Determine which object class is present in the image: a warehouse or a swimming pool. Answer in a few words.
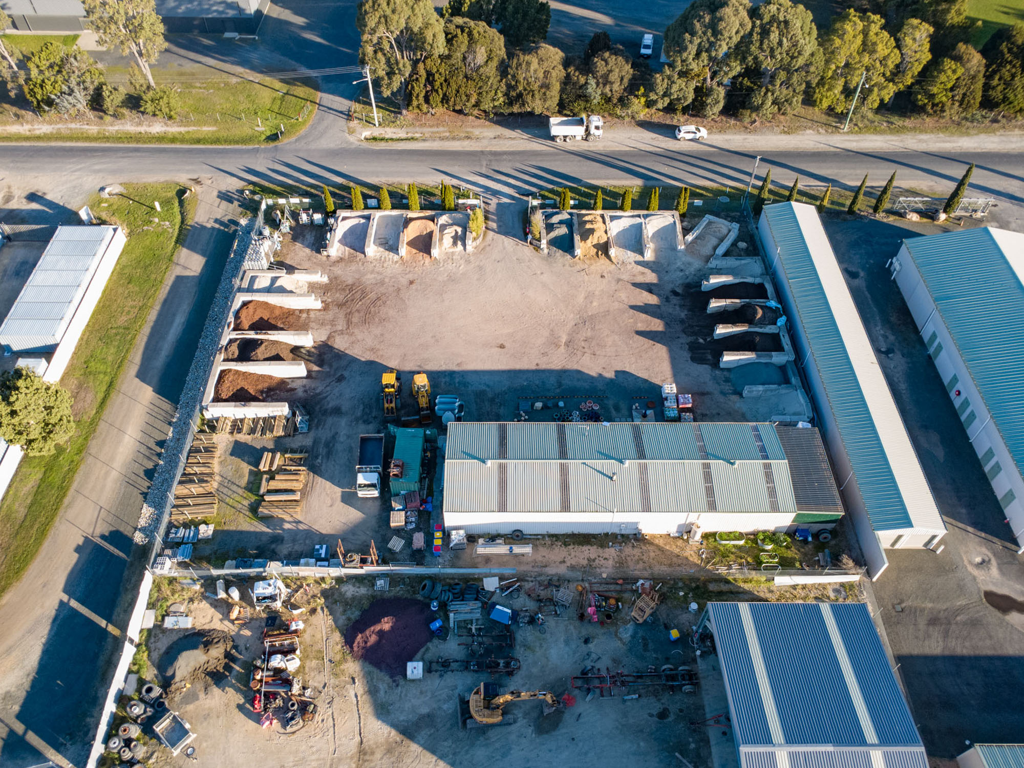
warehouse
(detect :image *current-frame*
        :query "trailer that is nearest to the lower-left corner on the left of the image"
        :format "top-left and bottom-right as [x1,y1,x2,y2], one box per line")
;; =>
[147,711,192,768]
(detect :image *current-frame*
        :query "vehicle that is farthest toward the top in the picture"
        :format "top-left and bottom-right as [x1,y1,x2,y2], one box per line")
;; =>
[640,34,655,56]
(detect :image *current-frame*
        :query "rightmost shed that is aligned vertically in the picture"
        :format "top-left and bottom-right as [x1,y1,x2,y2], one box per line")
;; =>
[892,228,1024,551]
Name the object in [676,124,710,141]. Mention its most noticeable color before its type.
white car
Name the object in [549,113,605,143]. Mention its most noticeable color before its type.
white truck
